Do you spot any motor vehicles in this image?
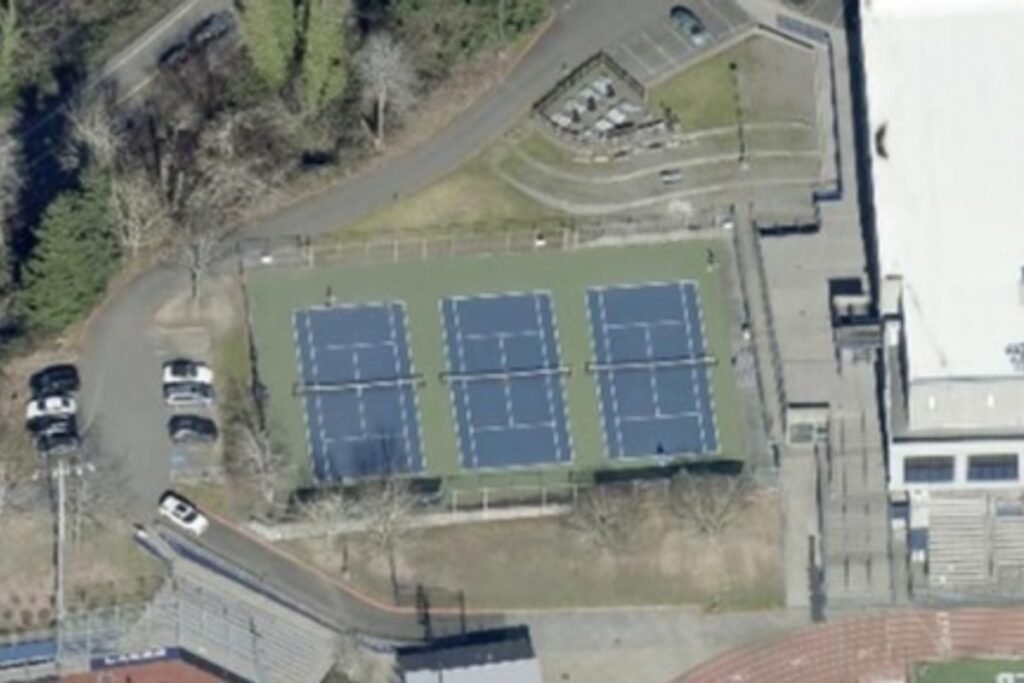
Yes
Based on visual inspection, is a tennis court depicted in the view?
Yes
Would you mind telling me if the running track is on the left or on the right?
right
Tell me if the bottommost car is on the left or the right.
left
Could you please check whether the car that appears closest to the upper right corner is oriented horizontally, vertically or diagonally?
diagonally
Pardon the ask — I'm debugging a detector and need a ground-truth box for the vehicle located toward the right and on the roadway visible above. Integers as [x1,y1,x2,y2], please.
[671,11,709,46]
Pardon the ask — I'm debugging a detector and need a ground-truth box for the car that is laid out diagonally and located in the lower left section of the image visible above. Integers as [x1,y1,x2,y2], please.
[158,498,205,535]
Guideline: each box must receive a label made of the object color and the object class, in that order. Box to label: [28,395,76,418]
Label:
white car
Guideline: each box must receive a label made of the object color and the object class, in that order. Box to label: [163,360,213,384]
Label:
white car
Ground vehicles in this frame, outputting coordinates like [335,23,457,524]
[29,415,76,438]
[170,420,218,443]
[158,498,205,535]
[163,360,213,384]
[37,431,83,454]
[27,369,78,394]
[165,383,213,406]
[671,11,709,46]
[28,395,76,418]
[187,15,231,55]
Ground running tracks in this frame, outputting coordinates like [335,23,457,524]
[670,606,1024,683]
